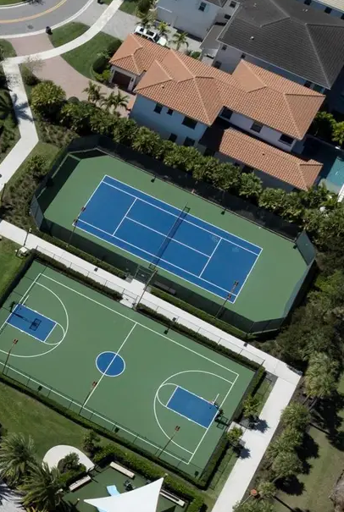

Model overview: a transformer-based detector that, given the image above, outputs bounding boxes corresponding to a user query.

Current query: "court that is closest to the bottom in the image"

[0,261,255,475]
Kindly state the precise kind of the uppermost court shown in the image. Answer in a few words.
tennis court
